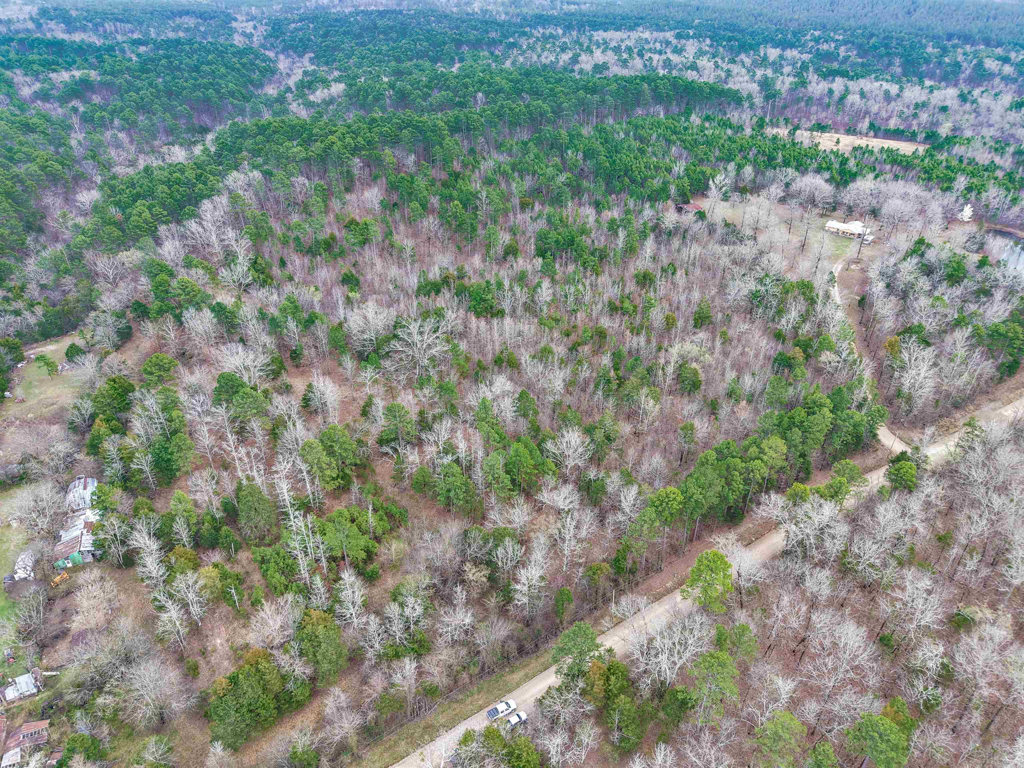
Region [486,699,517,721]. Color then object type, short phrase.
white truck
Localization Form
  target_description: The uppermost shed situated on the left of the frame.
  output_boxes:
[68,473,103,520]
